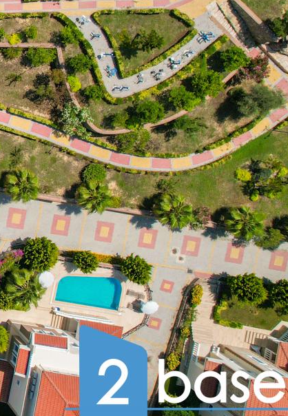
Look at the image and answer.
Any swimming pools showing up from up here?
Yes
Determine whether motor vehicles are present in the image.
No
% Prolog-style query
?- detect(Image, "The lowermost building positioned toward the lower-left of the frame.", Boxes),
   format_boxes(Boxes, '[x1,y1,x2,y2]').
[0,309,128,416]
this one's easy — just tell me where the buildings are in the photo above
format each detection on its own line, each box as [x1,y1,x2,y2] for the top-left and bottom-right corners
[0,309,128,416]
[176,324,288,416]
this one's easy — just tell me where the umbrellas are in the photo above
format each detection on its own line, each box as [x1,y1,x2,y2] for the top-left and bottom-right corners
[136,297,158,317]
[37,272,54,288]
